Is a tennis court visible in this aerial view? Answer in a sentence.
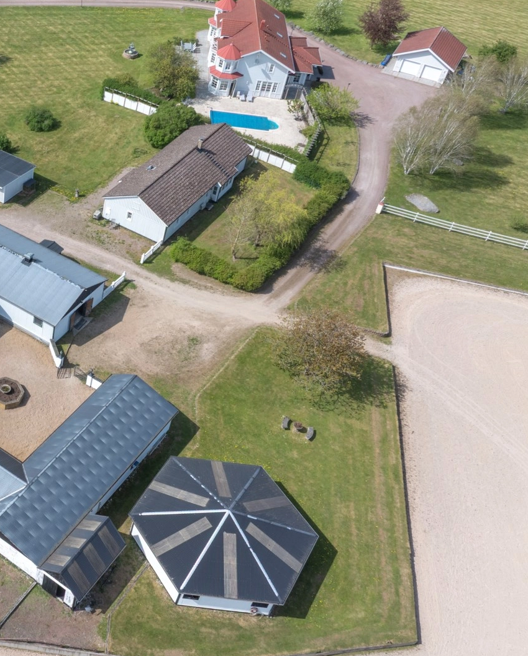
No, no tennis court can be seen from above.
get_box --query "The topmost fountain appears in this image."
[121,40,140,58]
